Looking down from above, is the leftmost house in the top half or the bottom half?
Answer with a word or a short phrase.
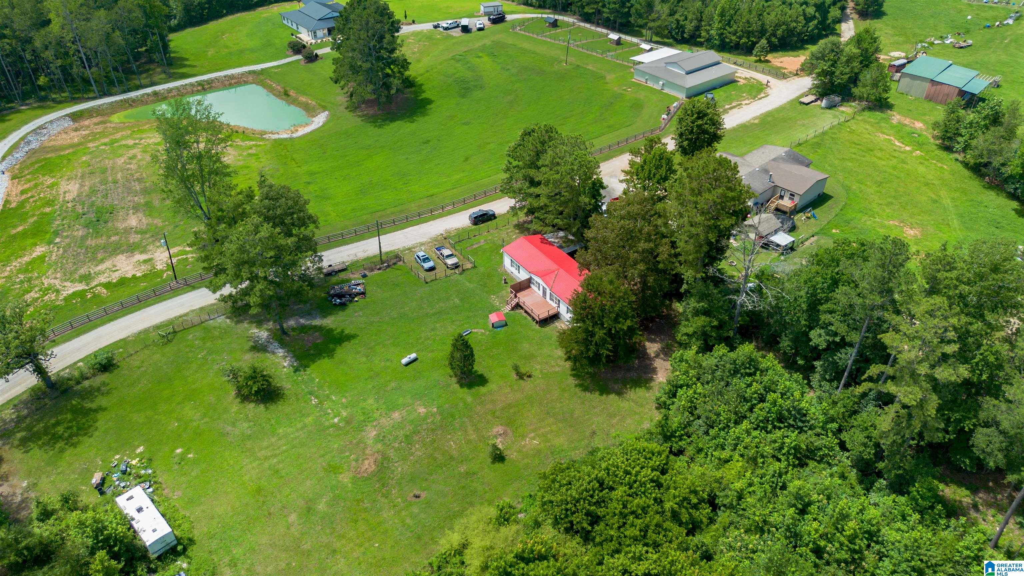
top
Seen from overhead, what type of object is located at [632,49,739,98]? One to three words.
barn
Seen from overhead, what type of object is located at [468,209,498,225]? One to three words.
car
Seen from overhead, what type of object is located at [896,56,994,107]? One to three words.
barn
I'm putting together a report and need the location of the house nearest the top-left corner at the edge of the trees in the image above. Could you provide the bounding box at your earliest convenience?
[279,0,366,39]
